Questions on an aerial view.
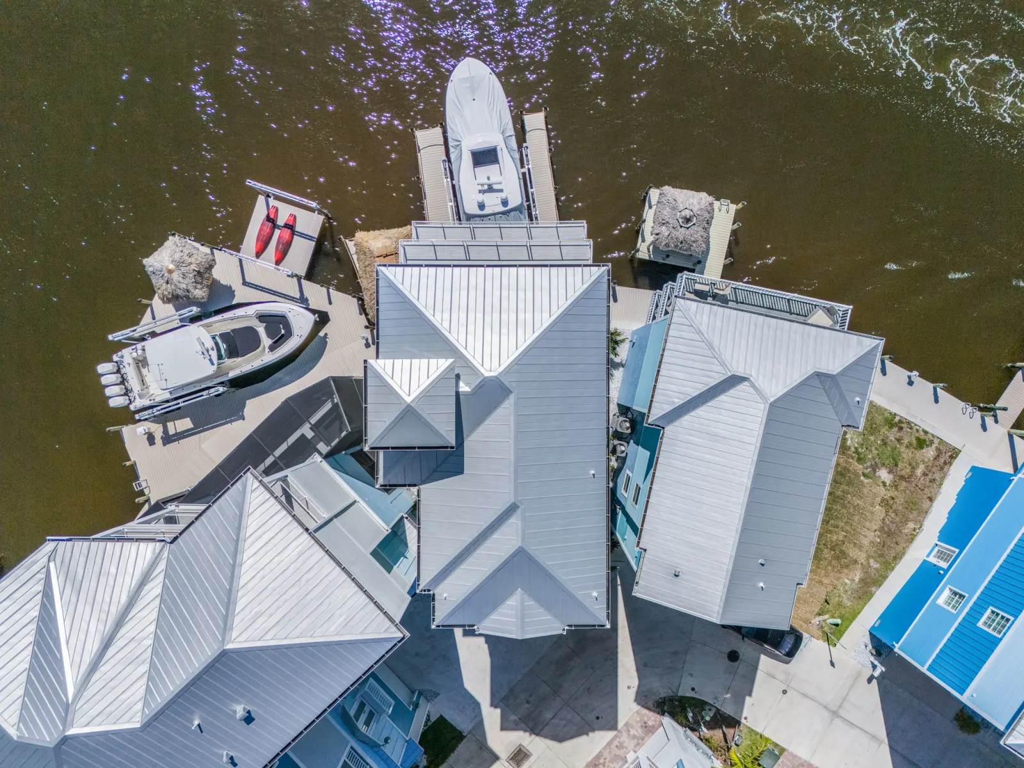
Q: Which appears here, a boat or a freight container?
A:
boat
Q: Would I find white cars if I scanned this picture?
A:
No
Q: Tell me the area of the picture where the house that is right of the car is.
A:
bottom right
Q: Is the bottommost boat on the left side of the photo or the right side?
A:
left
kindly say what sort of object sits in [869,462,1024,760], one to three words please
house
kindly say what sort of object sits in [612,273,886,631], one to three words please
house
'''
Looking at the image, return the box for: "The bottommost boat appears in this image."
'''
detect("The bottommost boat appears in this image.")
[98,300,321,409]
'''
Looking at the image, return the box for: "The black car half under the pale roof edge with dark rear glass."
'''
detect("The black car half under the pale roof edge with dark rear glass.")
[716,623,801,661]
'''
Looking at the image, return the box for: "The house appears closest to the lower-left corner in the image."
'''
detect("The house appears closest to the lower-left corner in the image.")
[0,438,429,768]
